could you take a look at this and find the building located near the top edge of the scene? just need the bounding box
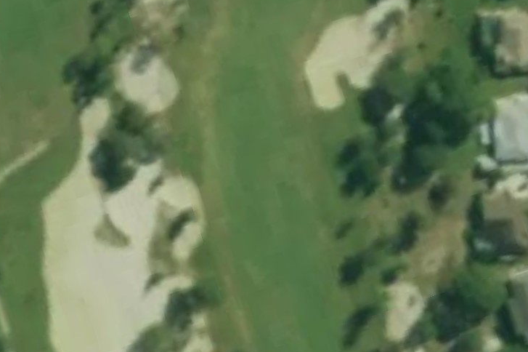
[477,10,528,73]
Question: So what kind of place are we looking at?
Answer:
golf course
